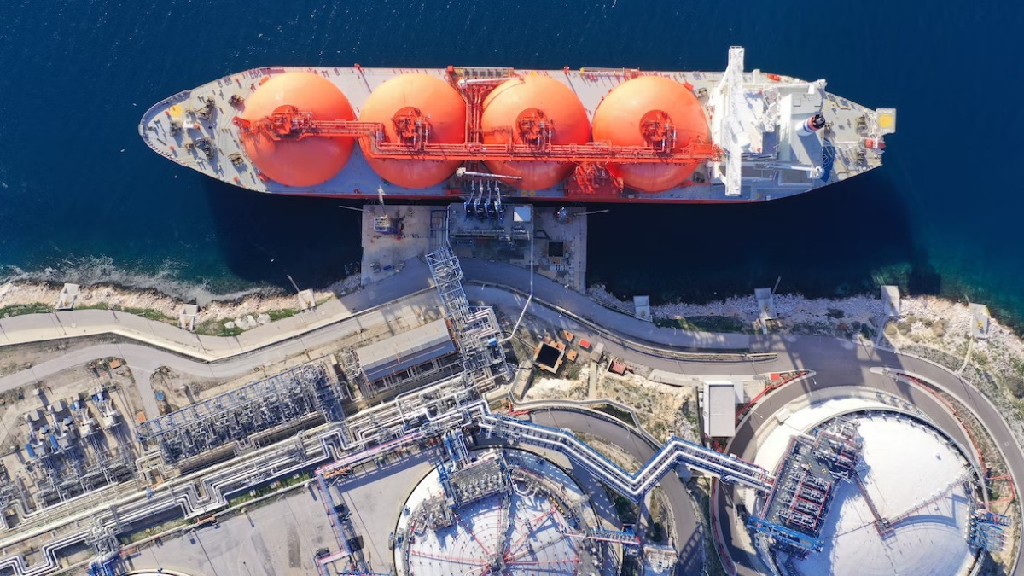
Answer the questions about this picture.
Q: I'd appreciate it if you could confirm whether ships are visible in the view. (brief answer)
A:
Yes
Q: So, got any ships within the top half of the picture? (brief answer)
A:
Yes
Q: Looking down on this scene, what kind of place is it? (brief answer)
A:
industrial area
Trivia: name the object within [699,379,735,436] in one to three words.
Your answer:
building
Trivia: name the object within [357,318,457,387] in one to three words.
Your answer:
shed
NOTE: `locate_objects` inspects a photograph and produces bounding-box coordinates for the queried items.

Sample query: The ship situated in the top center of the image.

[137,45,896,205]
